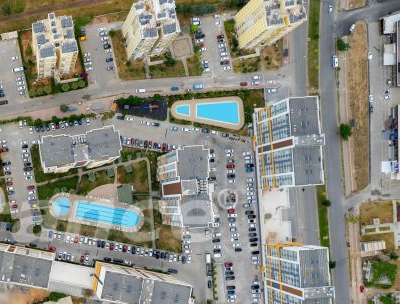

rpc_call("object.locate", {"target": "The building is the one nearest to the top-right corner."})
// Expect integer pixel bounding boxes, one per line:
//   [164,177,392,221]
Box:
[377,13,400,38]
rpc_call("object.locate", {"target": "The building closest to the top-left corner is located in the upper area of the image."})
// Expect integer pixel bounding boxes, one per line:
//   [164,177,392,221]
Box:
[32,13,77,80]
